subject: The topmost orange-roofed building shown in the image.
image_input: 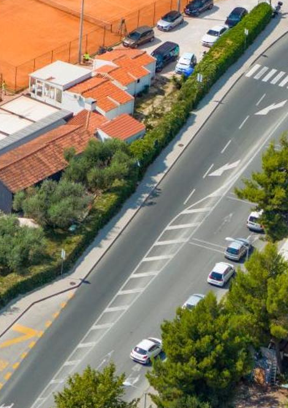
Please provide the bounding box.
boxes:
[65,48,157,120]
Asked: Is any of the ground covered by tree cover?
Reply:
Yes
